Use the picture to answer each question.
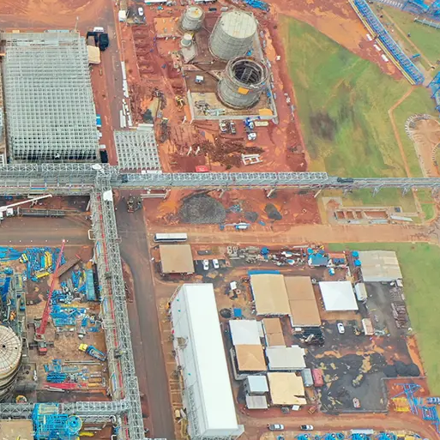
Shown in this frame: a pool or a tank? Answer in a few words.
tank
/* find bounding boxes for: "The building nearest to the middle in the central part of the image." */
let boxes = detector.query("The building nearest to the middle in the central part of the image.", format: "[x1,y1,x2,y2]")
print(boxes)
[157,245,192,279]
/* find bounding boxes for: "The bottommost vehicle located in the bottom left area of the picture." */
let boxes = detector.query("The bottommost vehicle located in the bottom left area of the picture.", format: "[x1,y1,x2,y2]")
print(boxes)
[81,342,108,361]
